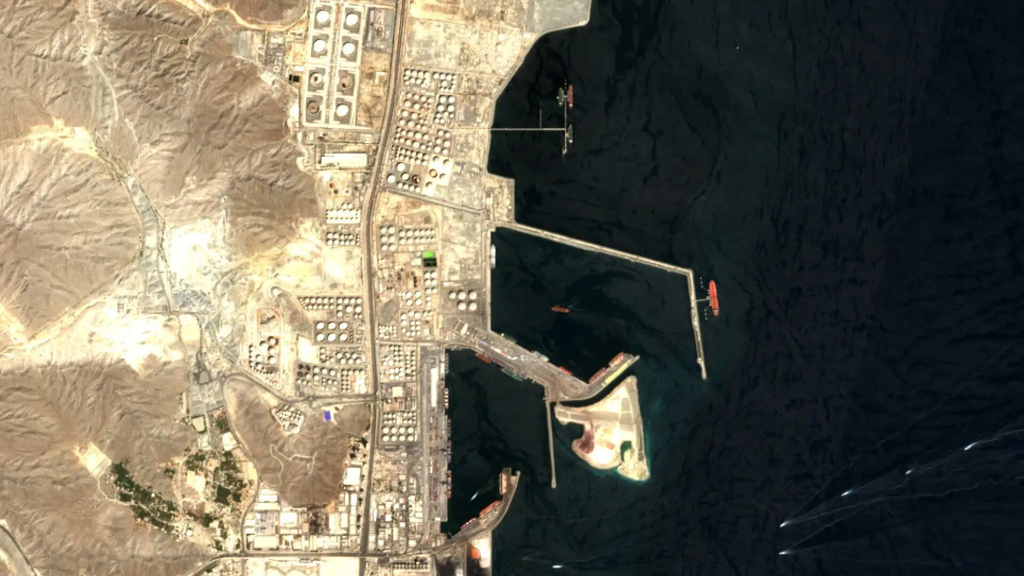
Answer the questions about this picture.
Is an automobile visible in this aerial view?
No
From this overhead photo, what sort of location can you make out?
port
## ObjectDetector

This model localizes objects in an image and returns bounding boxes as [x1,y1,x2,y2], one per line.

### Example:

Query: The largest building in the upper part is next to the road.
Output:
[338,154,366,167]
